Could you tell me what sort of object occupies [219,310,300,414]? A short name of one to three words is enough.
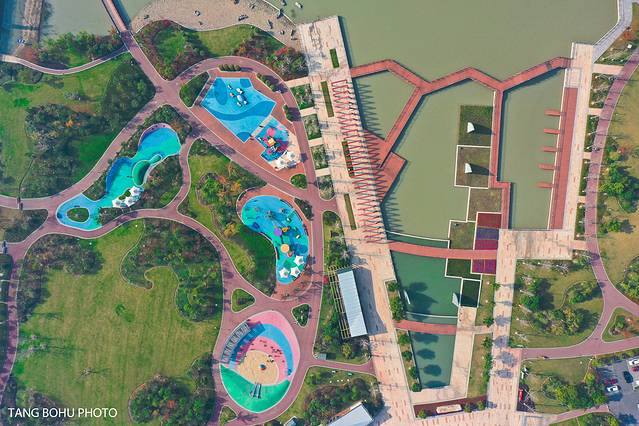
playground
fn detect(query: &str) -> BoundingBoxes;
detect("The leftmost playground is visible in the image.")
[56,126,181,231]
